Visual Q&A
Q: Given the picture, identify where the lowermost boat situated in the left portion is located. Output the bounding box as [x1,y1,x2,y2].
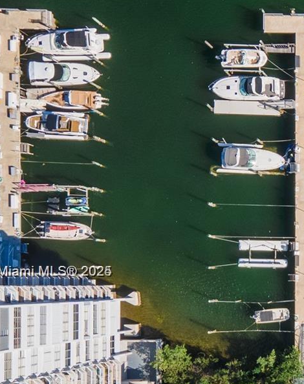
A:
[38,222,96,240]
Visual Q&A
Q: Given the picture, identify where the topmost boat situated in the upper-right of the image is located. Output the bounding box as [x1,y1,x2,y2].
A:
[216,48,268,68]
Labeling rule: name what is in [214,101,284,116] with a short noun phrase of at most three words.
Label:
pier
